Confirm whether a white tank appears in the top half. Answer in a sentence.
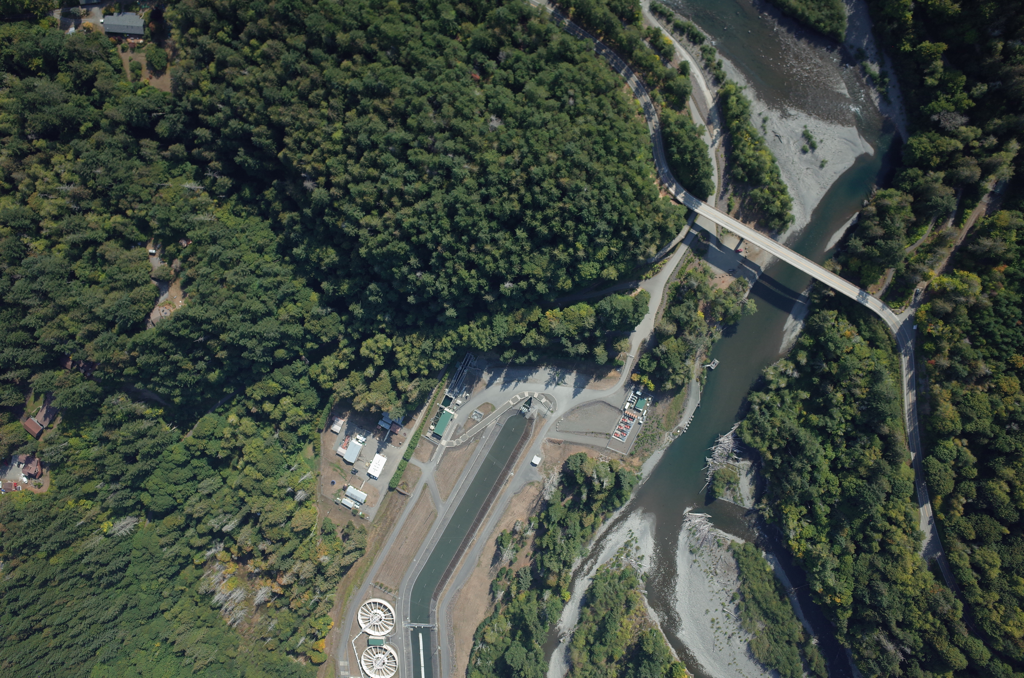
No, I can find no white tank in the top half.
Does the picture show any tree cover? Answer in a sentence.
Yes, there's tree cover in this view.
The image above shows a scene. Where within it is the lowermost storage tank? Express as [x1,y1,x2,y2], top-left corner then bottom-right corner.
[363,646,397,678]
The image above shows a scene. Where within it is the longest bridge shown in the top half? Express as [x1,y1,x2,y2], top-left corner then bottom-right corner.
[690,199,874,307]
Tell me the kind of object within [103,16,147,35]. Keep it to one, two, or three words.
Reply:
house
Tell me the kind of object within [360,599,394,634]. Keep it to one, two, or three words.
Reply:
storage tank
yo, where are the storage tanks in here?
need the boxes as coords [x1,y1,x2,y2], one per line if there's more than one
[360,599,394,634]
[363,646,397,678]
